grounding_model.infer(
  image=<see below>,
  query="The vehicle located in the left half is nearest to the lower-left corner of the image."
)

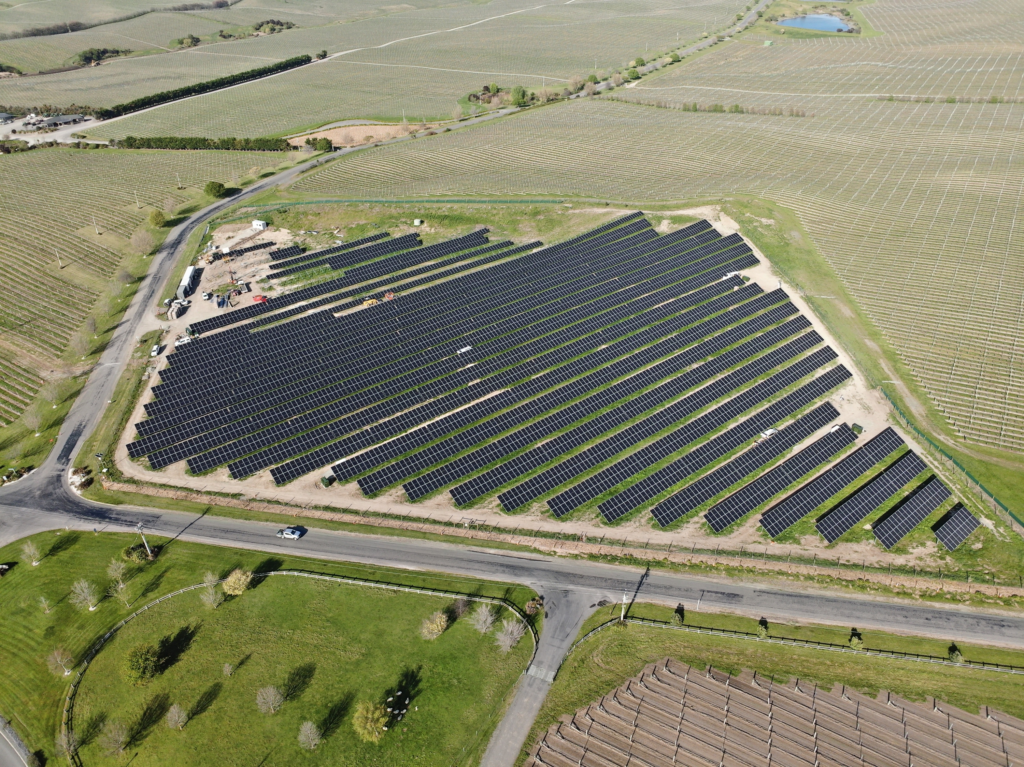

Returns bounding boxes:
[276,529,302,541]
